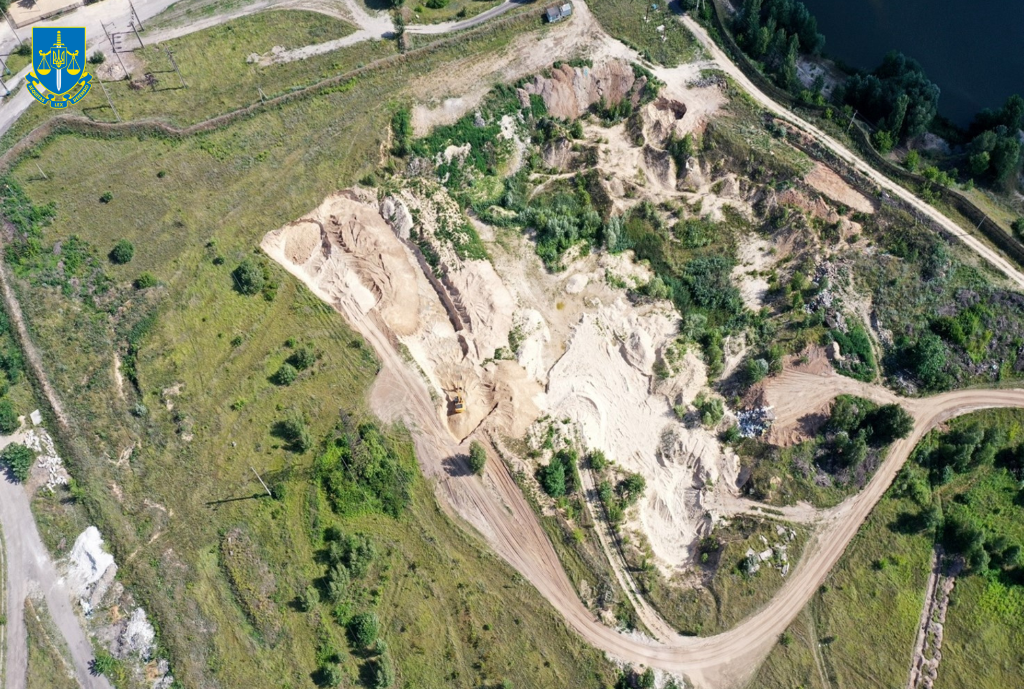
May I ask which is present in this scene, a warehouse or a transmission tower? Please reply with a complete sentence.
There is a transmission tower in the scene.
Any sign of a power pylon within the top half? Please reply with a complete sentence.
No, looking within the top half, there is no power pylon.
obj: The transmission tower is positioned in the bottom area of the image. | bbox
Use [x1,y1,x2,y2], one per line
[329,407,372,481]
